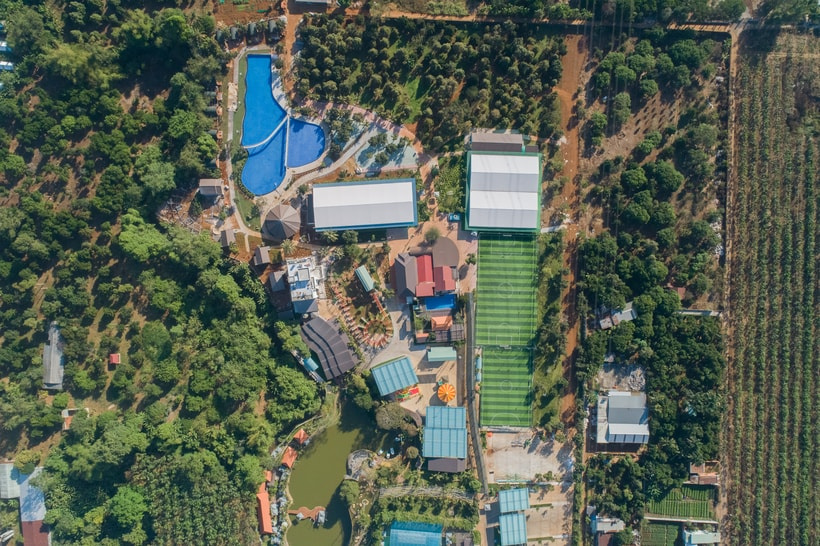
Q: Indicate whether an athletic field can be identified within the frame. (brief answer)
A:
Yes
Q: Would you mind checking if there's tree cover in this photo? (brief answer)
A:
Yes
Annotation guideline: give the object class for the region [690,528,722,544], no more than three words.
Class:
house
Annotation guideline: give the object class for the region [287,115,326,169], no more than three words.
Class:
swimming pool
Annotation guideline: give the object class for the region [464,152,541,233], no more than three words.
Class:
building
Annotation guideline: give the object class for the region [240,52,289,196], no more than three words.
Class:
swimming pool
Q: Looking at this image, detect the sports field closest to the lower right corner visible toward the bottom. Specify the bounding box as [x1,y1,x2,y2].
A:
[480,343,533,430]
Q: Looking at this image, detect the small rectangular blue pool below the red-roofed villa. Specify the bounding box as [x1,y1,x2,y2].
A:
[424,292,456,311]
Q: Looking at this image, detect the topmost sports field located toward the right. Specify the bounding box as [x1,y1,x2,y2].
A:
[476,231,537,347]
